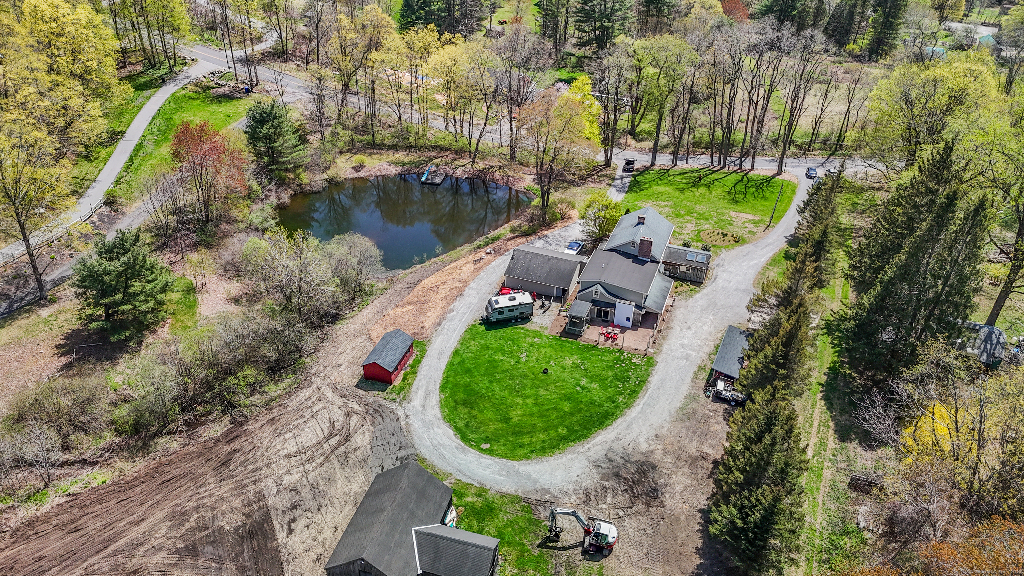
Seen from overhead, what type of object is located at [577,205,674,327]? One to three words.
house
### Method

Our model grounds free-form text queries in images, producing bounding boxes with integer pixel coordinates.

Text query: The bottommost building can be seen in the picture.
[325,461,501,576]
